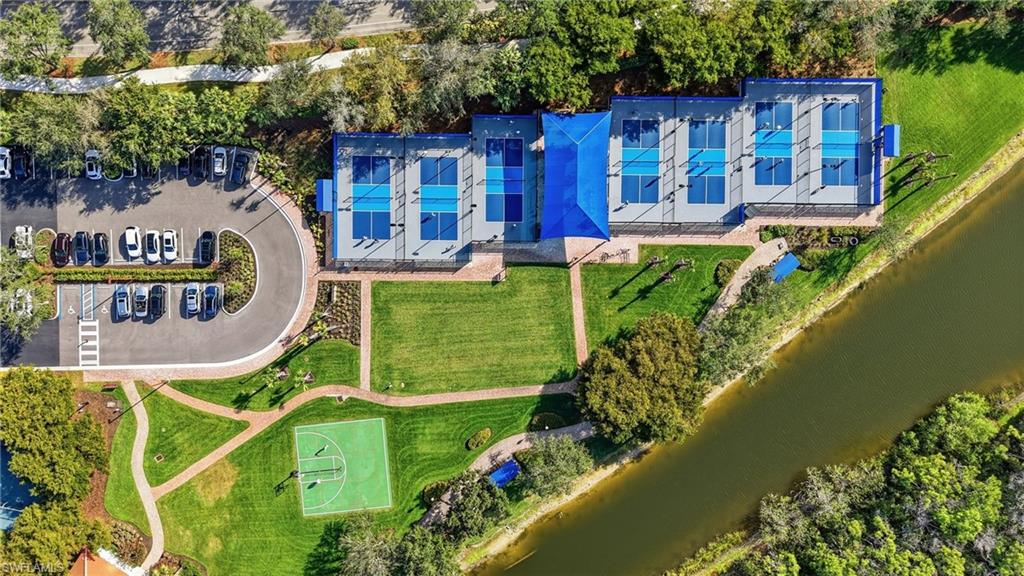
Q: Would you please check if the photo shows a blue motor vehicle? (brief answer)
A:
Yes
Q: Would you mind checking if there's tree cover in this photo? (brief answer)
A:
Yes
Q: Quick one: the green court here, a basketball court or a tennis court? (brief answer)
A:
basketball court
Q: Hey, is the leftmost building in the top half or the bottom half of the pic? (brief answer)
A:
bottom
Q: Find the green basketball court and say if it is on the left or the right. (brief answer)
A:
left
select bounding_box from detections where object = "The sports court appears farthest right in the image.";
[810,82,875,204]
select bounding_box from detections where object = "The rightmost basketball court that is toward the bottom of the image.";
[294,418,392,517]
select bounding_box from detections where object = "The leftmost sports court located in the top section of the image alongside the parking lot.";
[337,137,403,260]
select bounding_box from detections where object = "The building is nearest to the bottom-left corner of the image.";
[66,543,136,576]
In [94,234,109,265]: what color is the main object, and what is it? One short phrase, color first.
black car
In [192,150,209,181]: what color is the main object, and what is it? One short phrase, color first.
black car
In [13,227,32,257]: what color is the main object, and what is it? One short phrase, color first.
white car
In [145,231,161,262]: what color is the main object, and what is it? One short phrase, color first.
white car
